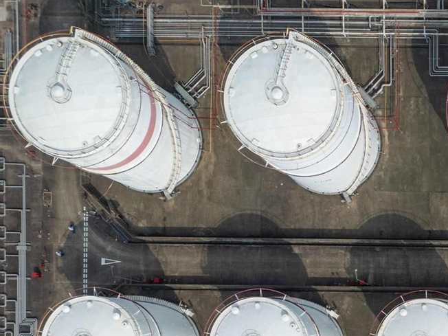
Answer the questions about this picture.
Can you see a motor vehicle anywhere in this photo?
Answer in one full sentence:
No, the picture doesn't show any motor vehicle.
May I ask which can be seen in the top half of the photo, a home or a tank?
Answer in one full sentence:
What appears in the top half of the photo is a tank.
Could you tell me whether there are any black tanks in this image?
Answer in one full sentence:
No, there is no black tank in the image.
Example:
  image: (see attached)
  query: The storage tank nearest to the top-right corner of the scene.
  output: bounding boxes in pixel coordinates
[219,25,382,199]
